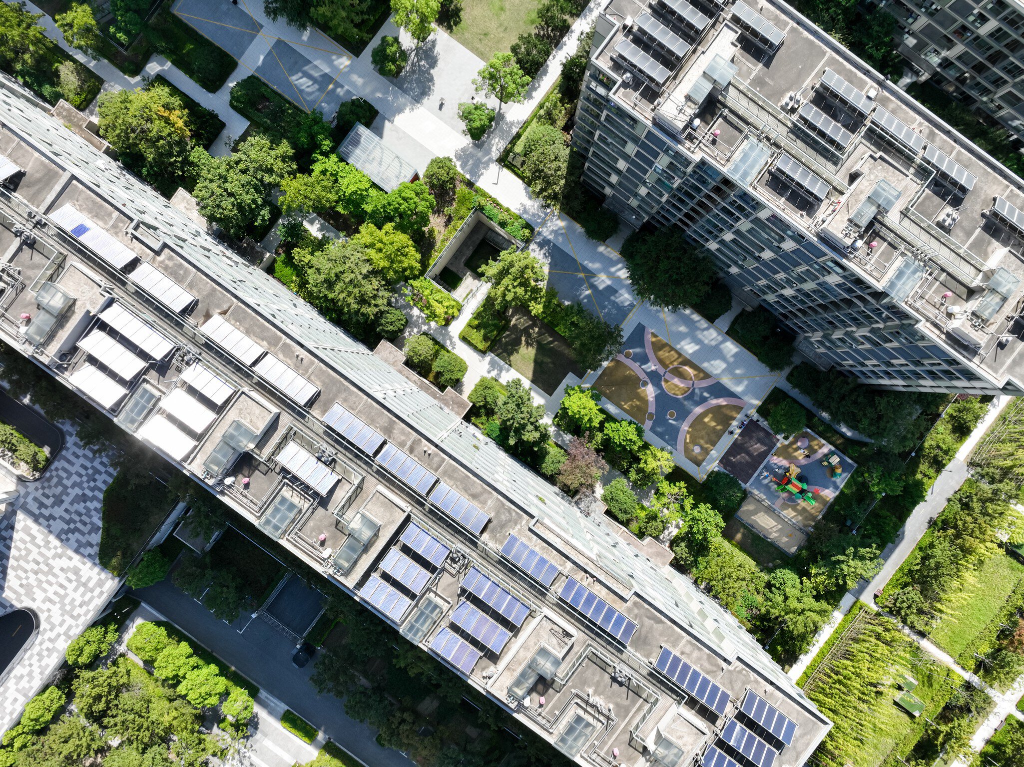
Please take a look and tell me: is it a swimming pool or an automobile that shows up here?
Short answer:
automobile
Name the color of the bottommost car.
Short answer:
black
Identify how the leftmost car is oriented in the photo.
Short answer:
on a diagonal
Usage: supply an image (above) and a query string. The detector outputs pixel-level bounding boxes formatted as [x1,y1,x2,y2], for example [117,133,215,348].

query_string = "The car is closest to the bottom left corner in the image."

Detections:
[291,642,316,672]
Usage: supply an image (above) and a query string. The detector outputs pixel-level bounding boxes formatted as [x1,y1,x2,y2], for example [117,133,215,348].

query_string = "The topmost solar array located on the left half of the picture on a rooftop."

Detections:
[0,154,26,186]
